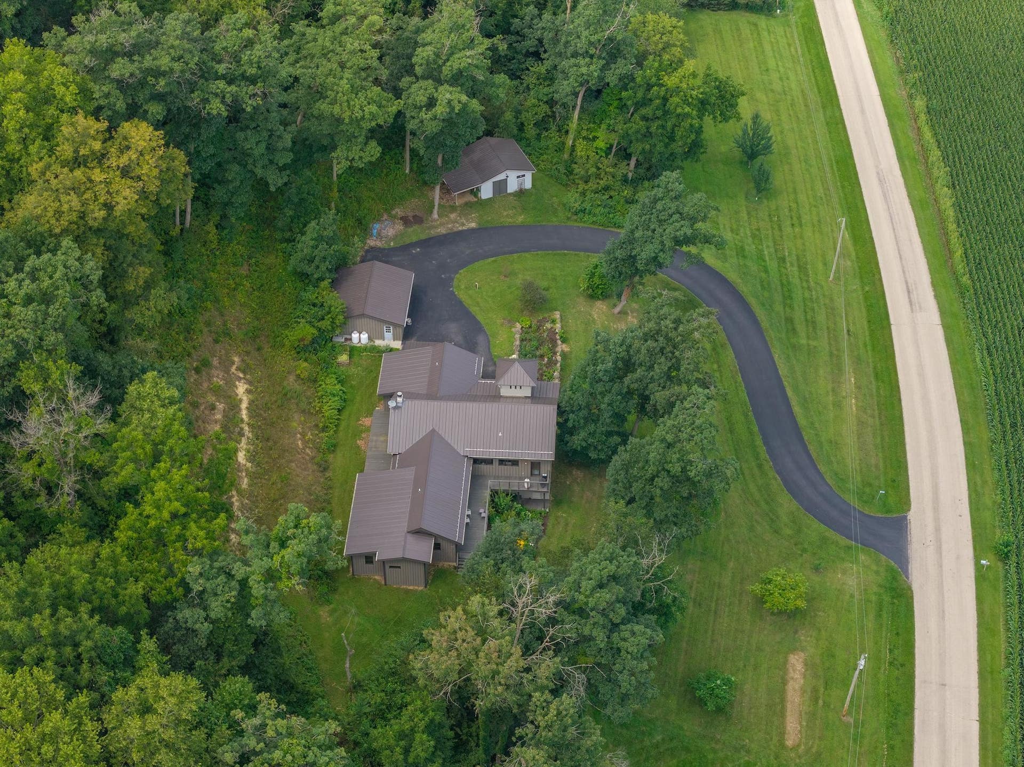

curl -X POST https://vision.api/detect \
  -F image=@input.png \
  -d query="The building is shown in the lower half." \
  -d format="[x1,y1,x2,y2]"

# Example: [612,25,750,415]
[343,341,558,585]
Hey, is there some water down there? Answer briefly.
No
